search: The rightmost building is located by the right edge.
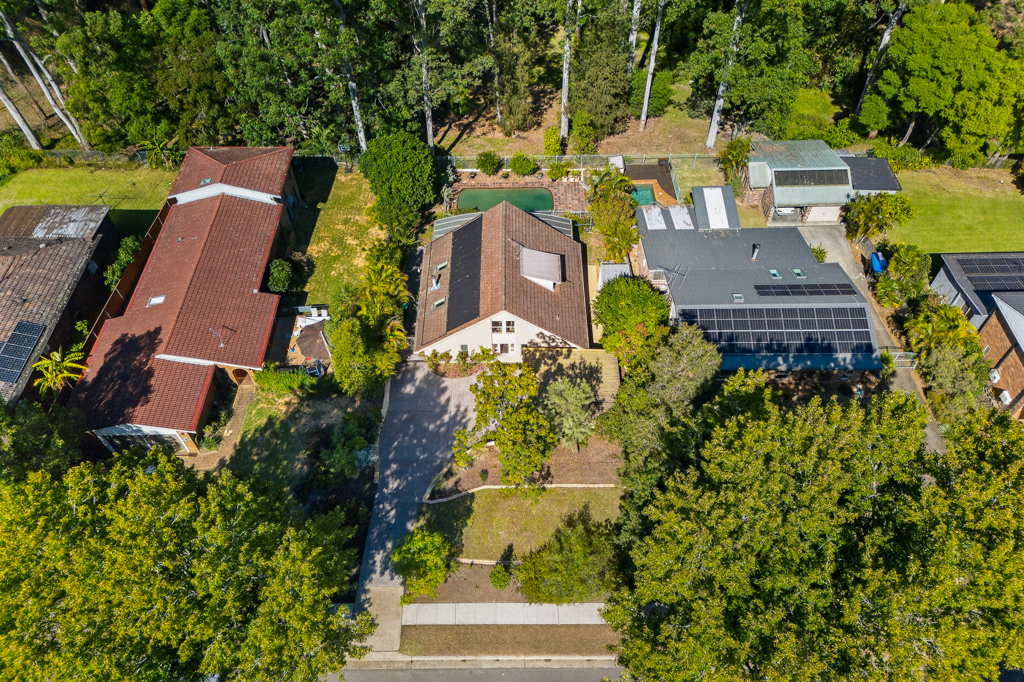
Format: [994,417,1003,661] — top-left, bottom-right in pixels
[930,254,1024,426]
